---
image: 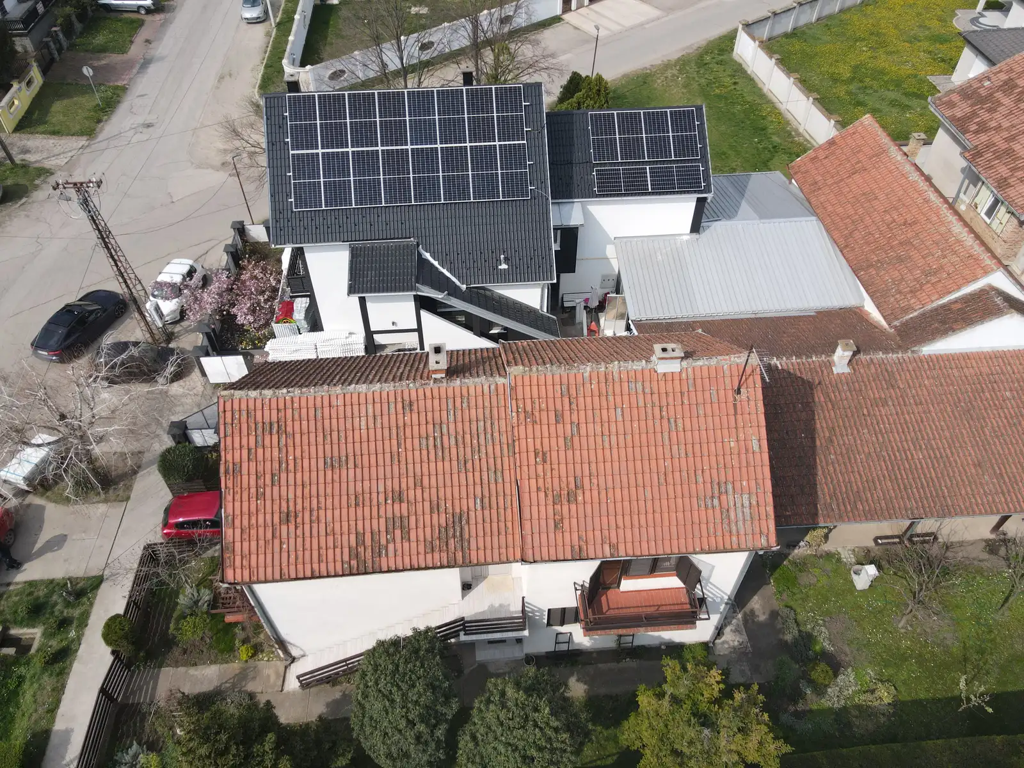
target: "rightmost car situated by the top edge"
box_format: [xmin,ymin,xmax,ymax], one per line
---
[241,0,275,21]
